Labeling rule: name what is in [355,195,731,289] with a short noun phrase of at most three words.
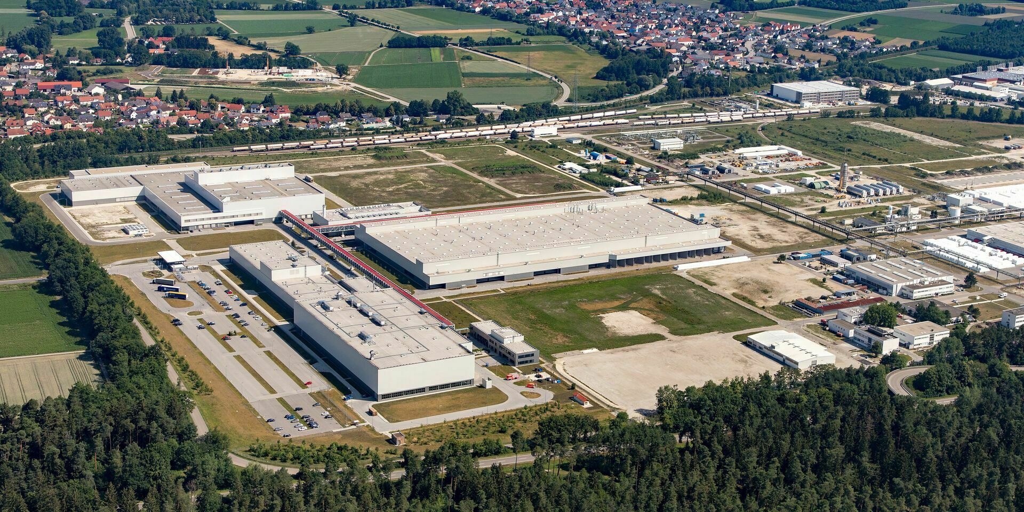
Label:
building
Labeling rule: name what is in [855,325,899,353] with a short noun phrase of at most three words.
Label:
building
